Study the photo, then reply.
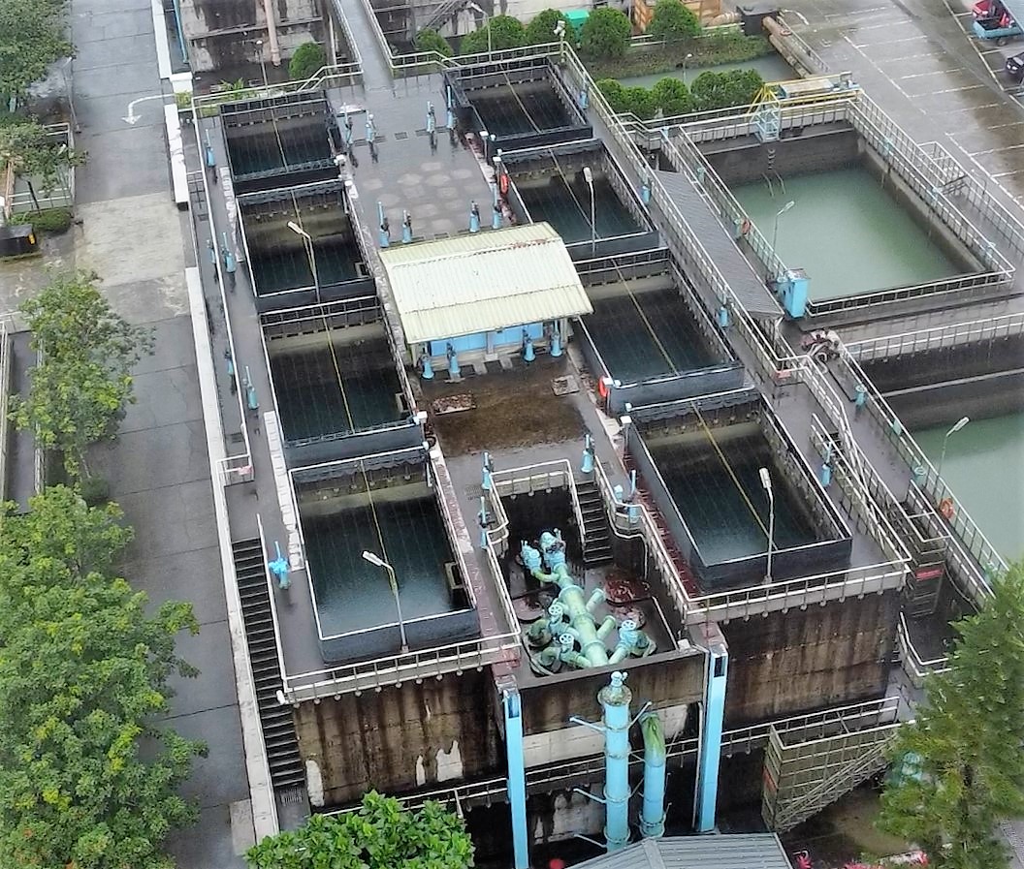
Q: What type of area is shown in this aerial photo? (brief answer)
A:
industrial area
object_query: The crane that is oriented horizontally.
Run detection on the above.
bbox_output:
[739,73,876,139]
